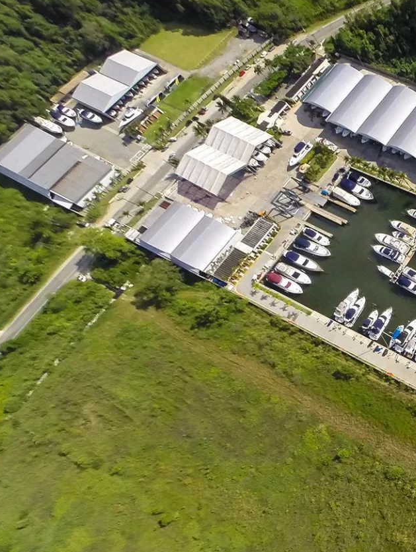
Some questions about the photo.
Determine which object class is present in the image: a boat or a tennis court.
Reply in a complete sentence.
The image shows a boat.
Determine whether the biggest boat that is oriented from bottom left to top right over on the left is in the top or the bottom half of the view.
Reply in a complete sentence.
It is in the top half that the biggest boat that is oriented from bottom left to top right over on the left appears.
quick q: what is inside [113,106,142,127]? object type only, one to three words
boat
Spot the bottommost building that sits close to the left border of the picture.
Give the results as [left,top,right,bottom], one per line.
[0,126,126,217]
